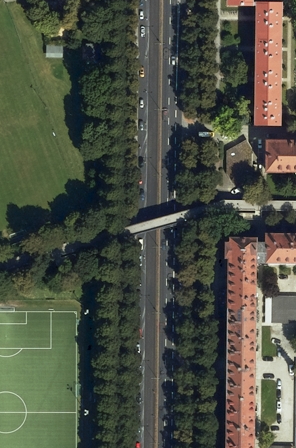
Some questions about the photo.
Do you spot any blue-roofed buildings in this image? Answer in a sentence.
No, no blue-roofed building can be seen from above.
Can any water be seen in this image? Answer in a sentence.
No, the picture contains no water.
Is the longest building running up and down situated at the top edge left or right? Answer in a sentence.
You can find the longest building running up and down situated at the top edge on the right side of the picture.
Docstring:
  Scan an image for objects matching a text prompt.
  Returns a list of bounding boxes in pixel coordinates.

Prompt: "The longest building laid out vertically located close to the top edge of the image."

[251,1,284,127]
